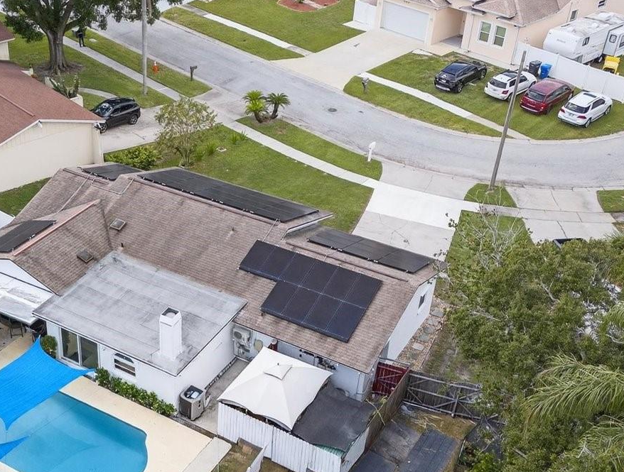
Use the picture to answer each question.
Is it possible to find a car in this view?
Yes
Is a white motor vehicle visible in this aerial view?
Yes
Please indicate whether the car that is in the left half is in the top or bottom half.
top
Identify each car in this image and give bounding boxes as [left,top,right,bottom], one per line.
[88,93,148,132]
[490,66,535,97]
[564,91,612,124]
[440,60,484,91]
[526,77,574,111]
